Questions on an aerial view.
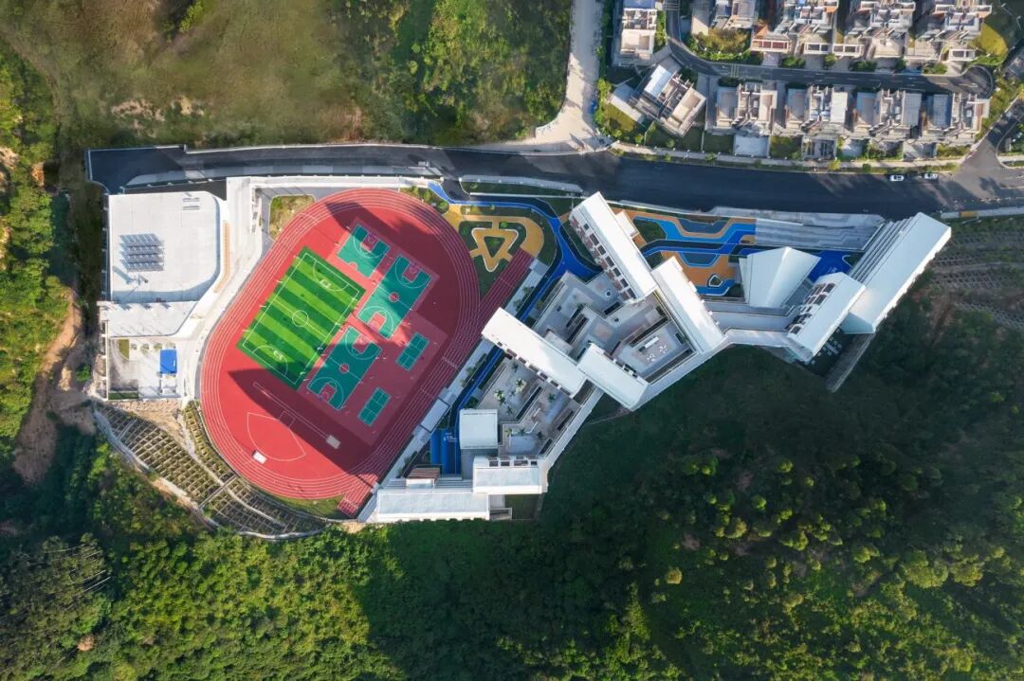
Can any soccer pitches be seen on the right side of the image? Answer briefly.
No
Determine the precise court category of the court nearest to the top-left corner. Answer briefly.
basketball court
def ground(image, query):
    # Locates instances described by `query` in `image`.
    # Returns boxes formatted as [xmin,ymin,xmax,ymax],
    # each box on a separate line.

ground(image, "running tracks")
[198,188,533,518]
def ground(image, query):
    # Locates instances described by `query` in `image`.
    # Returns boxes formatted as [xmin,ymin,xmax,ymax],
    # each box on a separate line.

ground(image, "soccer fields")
[236,246,366,390]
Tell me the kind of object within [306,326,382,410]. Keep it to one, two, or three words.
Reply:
basketball court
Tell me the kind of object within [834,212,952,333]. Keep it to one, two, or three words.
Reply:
building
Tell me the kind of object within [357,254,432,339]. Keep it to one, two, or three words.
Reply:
basketball court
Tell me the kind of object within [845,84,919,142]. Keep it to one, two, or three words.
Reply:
house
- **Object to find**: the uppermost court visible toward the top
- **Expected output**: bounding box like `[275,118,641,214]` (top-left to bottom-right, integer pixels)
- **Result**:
[338,225,390,277]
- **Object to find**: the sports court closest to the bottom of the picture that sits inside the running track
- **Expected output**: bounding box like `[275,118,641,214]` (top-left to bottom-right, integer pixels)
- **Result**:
[358,387,391,426]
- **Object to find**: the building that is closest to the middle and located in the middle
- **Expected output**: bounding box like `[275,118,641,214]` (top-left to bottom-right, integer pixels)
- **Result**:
[479,307,587,402]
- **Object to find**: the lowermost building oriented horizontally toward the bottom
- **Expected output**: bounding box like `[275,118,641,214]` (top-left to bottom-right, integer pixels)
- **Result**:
[376,479,491,521]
